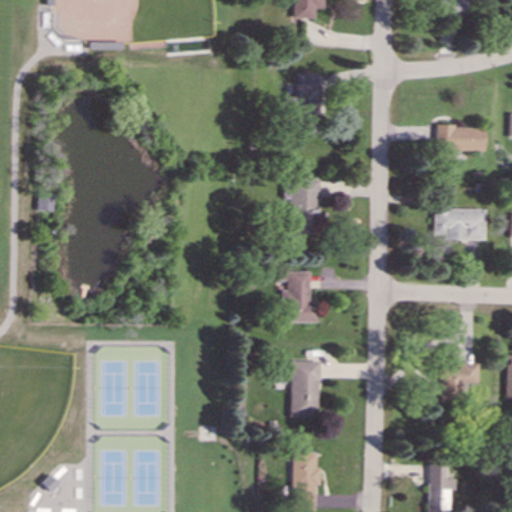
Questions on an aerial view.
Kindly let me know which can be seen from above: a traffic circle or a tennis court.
tennis court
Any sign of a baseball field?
Yes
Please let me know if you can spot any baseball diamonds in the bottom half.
Yes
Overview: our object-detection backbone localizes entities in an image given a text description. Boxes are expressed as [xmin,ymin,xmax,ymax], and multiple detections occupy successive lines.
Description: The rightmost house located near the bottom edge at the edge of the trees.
[430,466,458,512]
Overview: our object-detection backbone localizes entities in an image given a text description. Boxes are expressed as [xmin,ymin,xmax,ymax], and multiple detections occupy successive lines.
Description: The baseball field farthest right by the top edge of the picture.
[54,0,214,50]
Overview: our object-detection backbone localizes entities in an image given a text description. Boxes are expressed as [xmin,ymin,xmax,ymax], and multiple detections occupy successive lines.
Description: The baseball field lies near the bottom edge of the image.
[0,347,74,489]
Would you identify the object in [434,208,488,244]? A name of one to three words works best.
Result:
house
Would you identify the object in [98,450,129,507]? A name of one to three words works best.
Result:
tennis court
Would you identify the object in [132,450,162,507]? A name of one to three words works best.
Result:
tennis court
